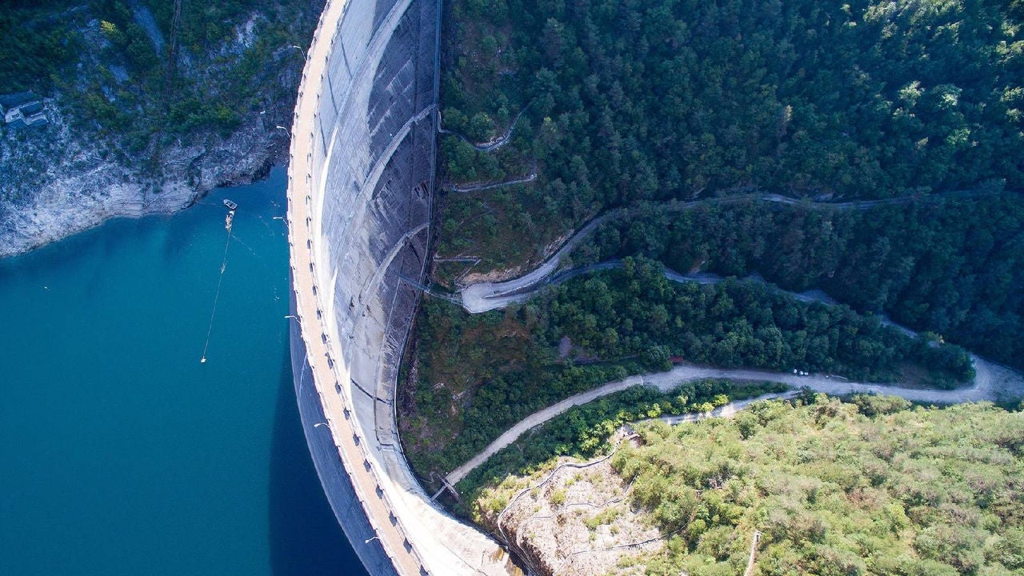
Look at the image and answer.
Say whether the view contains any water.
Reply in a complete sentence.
Yes, some water is visible.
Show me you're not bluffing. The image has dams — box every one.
[286,0,529,576]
